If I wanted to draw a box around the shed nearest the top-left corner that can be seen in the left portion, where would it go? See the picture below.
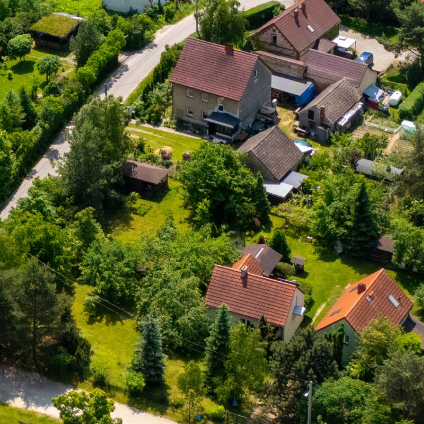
[31,11,79,55]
